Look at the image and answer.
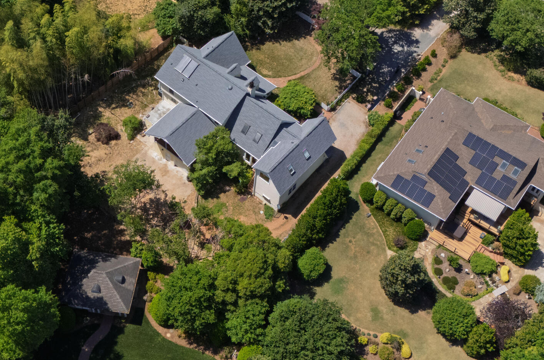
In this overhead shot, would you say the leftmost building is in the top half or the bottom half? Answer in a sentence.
It is in the bottom half that the leftmost building appears.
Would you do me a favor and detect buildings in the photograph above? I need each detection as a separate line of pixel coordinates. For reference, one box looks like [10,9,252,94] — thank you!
[60,249,142,322]
[371,87,544,230]
[143,32,337,209]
